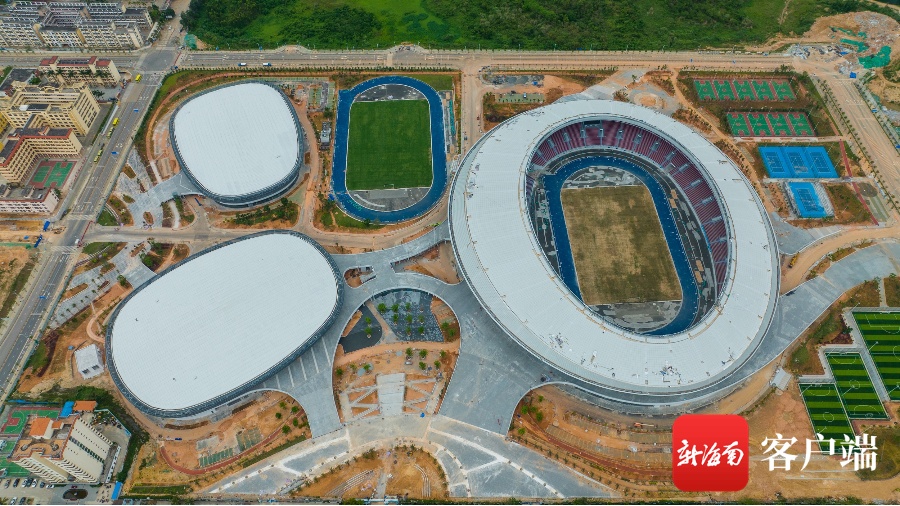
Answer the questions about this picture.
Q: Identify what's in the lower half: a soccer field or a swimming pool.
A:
soccer field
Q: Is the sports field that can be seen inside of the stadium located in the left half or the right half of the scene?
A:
right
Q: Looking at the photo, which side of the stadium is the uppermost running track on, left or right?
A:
on the left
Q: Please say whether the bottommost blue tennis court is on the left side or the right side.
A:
right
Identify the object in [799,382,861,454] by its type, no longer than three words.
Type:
soccer field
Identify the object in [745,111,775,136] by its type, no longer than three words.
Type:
basketball court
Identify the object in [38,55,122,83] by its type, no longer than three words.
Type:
building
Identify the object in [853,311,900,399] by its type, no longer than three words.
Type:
soccer field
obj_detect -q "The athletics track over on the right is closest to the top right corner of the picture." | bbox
[542,155,703,337]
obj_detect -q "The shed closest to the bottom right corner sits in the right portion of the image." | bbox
[768,367,793,394]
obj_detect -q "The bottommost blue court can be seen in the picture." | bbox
[788,182,827,217]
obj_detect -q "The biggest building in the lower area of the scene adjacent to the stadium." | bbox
[105,230,343,418]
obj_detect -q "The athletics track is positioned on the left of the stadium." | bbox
[330,76,446,222]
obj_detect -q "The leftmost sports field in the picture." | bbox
[346,99,432,189]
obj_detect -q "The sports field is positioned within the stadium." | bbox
[562,186,682,302]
